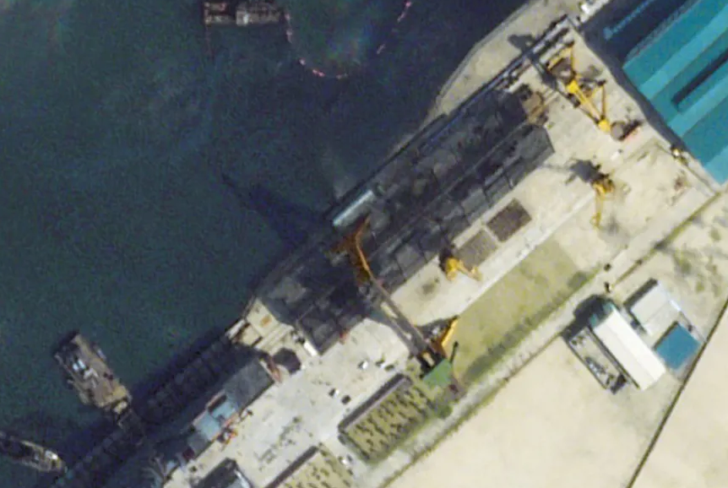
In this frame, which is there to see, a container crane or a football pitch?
container crane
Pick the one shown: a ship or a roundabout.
ship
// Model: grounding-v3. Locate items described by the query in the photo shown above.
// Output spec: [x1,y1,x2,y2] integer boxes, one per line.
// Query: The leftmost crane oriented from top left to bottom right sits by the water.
[302,203,432,358]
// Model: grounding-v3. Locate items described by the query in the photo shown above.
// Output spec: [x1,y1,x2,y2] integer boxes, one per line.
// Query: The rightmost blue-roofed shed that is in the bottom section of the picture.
[656,320,700,369]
